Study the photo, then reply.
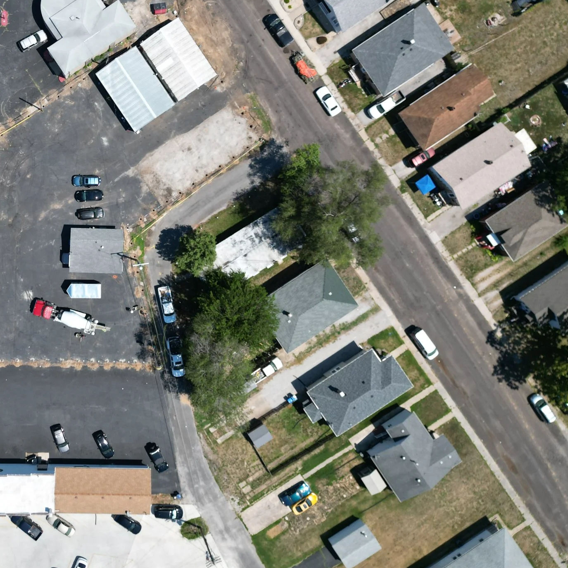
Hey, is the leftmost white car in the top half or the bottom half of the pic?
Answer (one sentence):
Seen from above, the leftmost white car lies in the top half of the view.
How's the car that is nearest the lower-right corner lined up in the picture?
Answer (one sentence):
In this picture, the car that is nearest the lower-right corner lies diagonally.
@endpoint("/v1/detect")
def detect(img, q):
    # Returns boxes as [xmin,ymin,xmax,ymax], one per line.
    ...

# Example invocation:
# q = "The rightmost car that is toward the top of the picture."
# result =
[409,147,437,167]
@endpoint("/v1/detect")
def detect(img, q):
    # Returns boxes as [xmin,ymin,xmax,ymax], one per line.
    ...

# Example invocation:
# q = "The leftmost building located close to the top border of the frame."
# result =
[42,0,136,74]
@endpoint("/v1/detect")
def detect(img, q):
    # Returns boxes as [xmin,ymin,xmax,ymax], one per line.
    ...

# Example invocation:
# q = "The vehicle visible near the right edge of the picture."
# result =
[528,390,558,426]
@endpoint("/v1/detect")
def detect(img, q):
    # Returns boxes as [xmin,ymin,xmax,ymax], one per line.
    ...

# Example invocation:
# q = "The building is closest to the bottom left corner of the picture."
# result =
[0,460,152,518]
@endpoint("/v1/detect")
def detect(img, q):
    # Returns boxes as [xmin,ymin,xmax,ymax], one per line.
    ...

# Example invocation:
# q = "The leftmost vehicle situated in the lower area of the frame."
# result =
[8,516,43,543]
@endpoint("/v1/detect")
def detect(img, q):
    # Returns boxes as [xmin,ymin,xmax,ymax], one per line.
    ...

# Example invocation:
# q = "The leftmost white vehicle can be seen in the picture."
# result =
[16,31,49,52]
